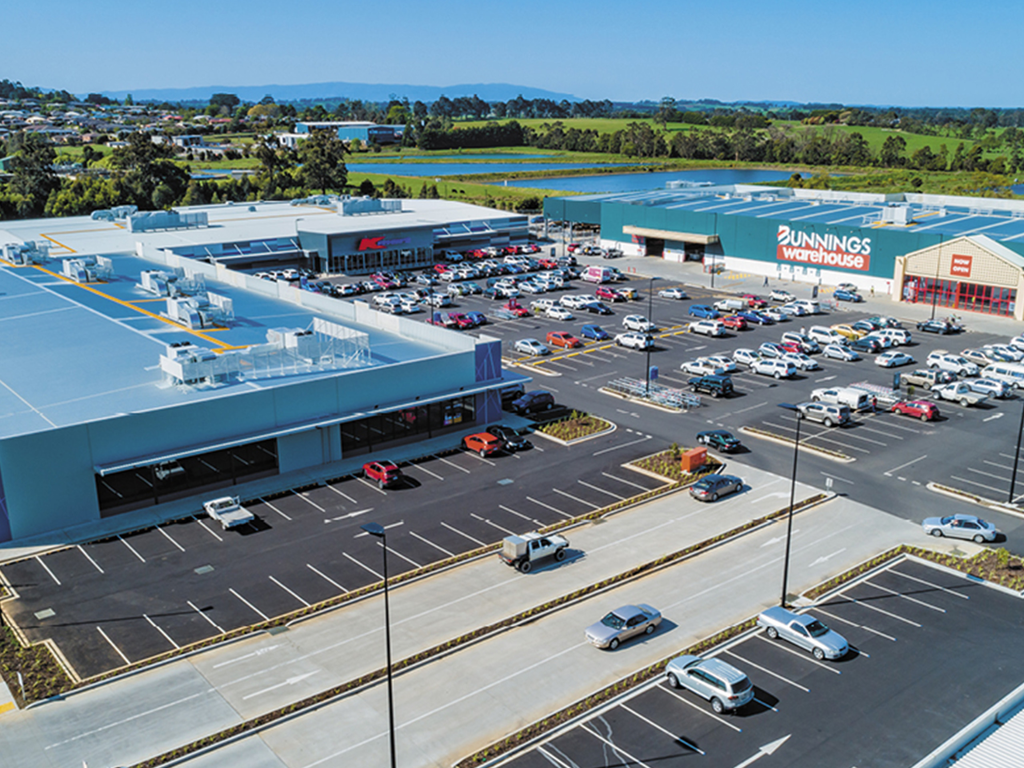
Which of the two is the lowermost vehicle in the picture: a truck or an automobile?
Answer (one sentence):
It looks like the lowermost vehicle is an automobile.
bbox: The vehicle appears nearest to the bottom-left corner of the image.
[207,496,256,535]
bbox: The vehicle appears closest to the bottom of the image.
[668,657,765,718]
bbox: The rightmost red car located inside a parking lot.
[892,401,944,423]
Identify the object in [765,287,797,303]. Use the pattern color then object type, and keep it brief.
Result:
white car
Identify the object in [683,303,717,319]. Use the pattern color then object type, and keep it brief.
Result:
blue car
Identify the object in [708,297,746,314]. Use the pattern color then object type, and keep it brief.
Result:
white vehicle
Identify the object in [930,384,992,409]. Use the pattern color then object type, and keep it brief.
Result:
white vehicle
